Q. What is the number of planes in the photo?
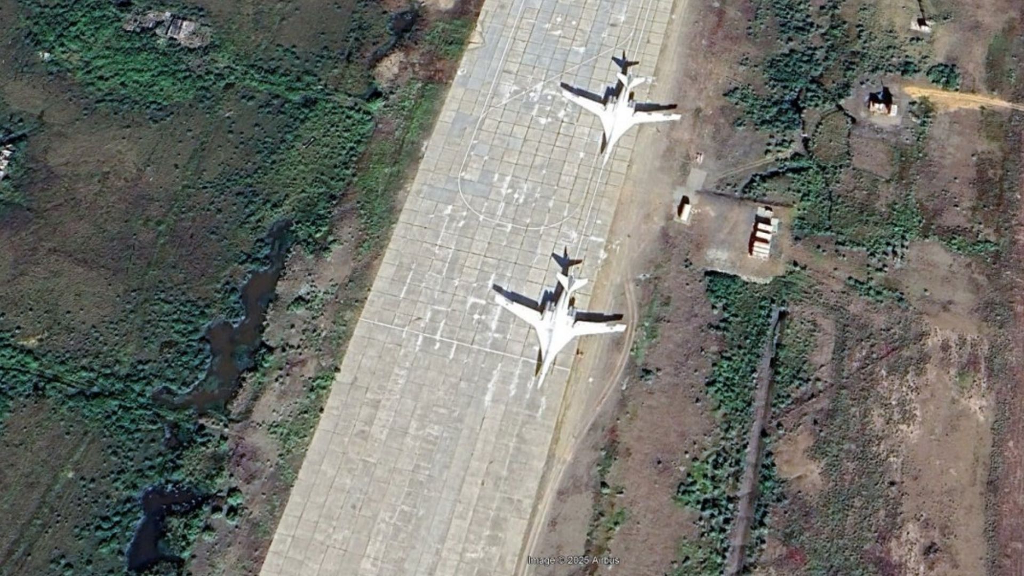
two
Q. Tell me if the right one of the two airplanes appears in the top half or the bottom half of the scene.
top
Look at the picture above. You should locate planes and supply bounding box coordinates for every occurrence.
[564,66,682,163]
[495,268,627,390]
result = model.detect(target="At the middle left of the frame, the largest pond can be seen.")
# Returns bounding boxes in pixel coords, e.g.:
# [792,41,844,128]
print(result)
[158,221,293,413]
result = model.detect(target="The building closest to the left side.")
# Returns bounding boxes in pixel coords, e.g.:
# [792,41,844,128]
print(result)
[126,12,213,48]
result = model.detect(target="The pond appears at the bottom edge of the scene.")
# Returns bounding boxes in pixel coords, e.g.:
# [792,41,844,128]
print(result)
[129,488,210,569]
